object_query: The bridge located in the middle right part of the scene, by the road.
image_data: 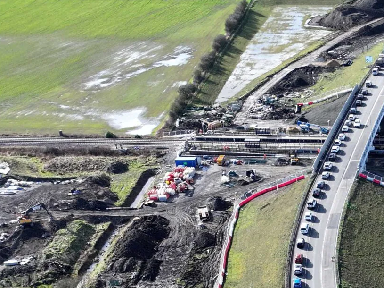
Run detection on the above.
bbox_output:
[303,78,384,203]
